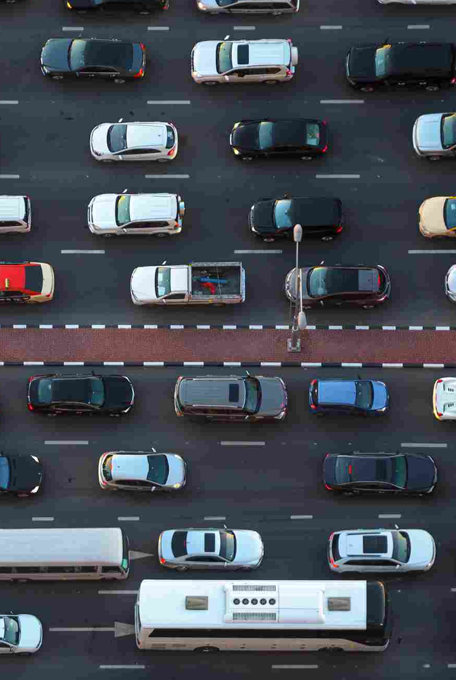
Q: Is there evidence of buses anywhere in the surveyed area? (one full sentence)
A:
Yes, there's a bus here.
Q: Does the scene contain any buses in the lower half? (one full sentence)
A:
Yes, a bus can be seen in the lower half.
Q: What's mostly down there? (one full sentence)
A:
The largest share of the image is taken up by paved ground.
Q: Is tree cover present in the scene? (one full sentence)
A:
No, the picture contains no tree cover.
